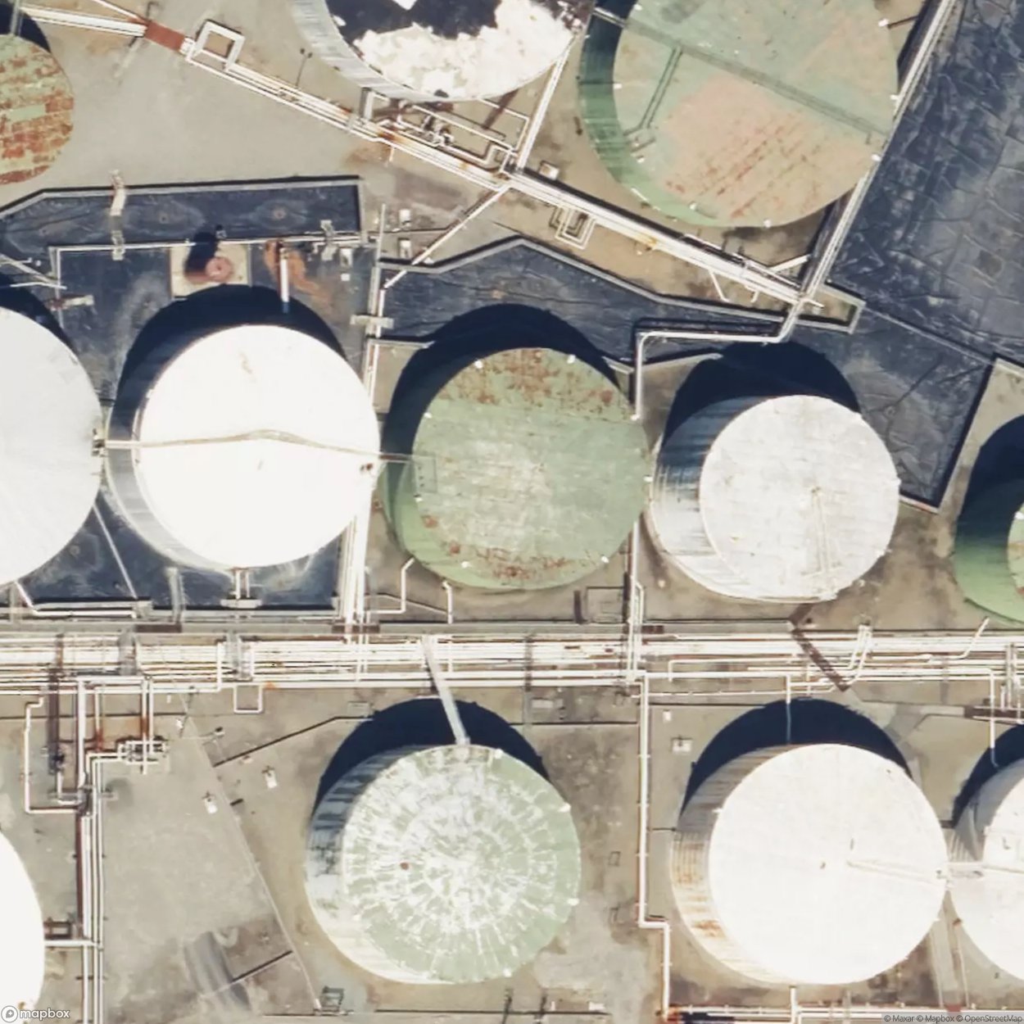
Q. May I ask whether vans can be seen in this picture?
No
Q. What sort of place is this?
industrial area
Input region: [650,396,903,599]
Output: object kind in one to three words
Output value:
storage tank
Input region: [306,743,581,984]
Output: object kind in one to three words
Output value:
storage tank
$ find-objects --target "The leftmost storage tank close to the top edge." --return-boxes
[0,33,75,185]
